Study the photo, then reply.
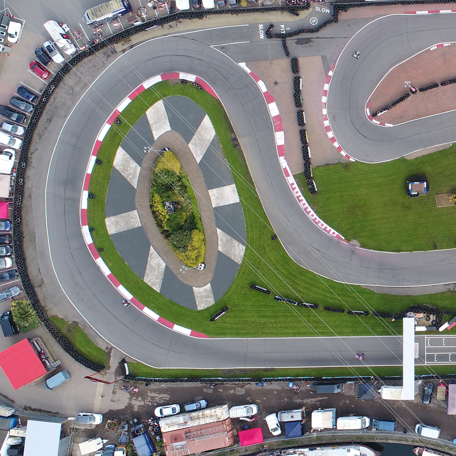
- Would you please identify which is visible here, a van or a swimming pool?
van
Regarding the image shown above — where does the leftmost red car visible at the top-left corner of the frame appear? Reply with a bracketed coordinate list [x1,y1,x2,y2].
[28,59,52,82]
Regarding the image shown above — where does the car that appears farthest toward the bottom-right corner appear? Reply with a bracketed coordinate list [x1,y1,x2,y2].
[414,423,442,439]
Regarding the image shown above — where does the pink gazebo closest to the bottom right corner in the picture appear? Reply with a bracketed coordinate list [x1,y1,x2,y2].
[239,425,268,446]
